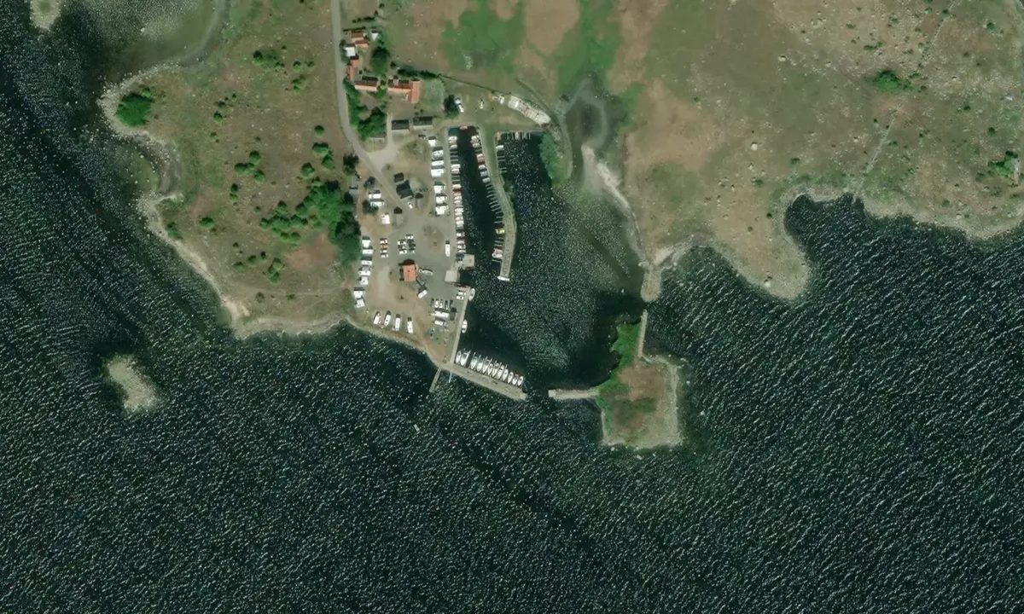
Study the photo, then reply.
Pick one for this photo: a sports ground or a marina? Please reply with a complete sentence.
This image shows a marina.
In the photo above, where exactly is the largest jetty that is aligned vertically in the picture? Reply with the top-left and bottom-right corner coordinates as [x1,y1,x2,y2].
[478,125,520,278]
